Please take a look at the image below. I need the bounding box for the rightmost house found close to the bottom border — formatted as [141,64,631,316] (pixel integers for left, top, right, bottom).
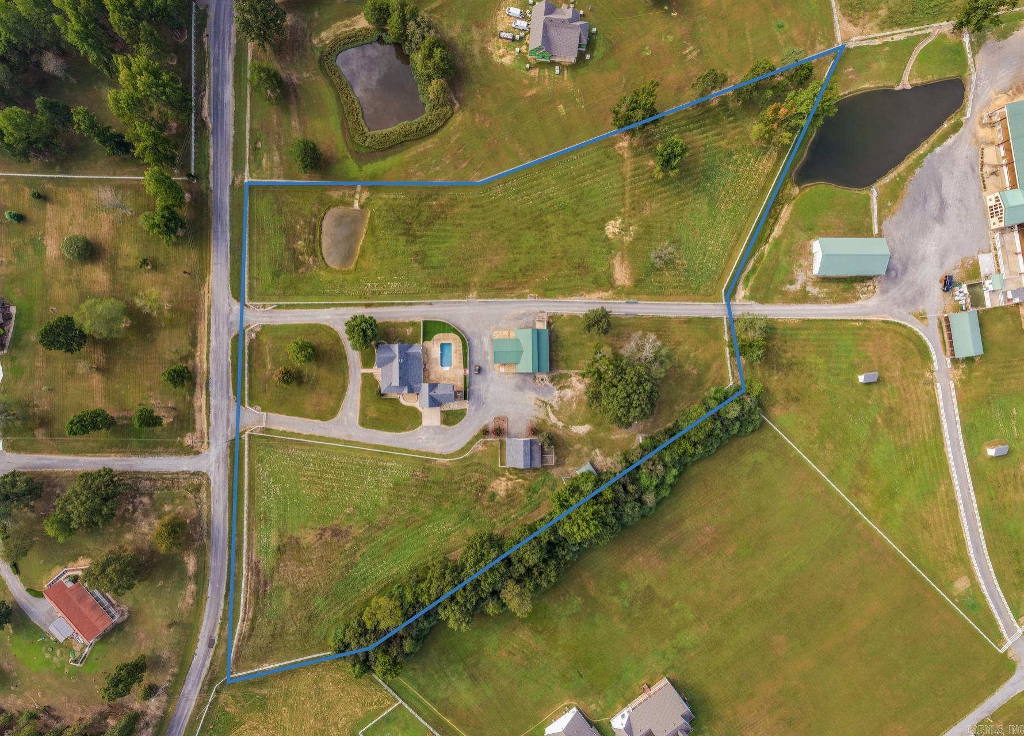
[611,677,694,736]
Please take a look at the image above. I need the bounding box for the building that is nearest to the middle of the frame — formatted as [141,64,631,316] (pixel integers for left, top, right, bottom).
[494,329,549,373]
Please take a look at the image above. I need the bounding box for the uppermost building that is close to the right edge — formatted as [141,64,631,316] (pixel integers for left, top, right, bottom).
[986,188,1024,230]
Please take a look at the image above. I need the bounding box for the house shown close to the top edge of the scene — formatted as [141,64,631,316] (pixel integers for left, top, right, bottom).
[529,0,589,62]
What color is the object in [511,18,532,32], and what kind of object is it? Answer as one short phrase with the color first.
white vehicle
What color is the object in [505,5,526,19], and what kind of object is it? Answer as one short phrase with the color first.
white vehicle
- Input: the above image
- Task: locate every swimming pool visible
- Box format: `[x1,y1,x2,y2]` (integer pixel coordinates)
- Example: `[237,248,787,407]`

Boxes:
[439,342,453,370]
